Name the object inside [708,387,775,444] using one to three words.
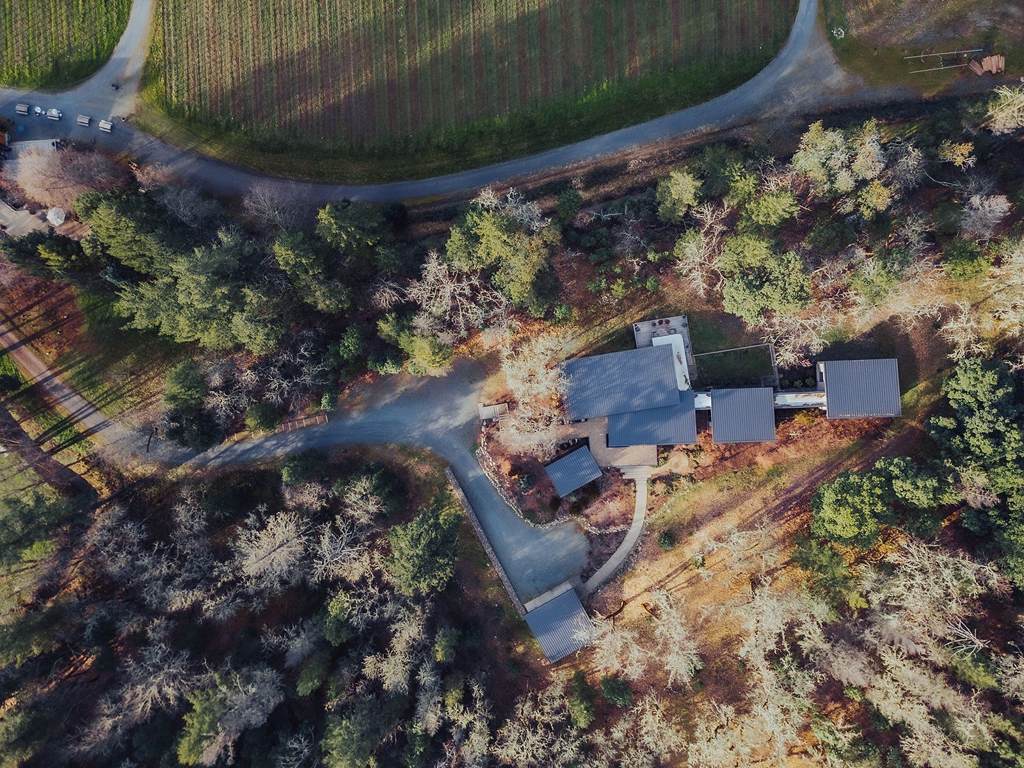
house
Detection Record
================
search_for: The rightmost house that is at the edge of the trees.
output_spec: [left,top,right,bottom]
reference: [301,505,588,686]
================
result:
[818,358,900,420]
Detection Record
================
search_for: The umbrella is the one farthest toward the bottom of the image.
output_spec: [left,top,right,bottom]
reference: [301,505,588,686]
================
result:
[47,206,68,225]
